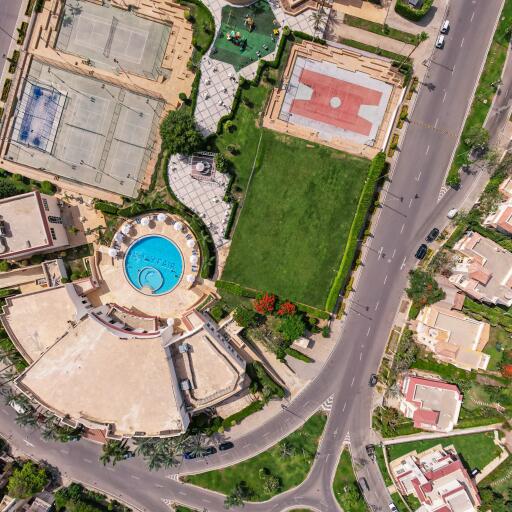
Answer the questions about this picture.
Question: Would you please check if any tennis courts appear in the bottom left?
No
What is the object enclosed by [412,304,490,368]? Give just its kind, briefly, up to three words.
house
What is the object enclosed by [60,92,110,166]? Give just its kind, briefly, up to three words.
tennis court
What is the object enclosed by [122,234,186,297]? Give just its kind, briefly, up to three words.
swimming pool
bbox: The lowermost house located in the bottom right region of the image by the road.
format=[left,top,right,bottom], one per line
[388,439,482,512]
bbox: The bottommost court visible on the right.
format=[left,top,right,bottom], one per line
[278,57,393,146]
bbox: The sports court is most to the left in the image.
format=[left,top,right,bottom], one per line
[7,78,66,152]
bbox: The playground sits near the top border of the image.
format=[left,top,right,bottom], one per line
[210,0,280,72]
